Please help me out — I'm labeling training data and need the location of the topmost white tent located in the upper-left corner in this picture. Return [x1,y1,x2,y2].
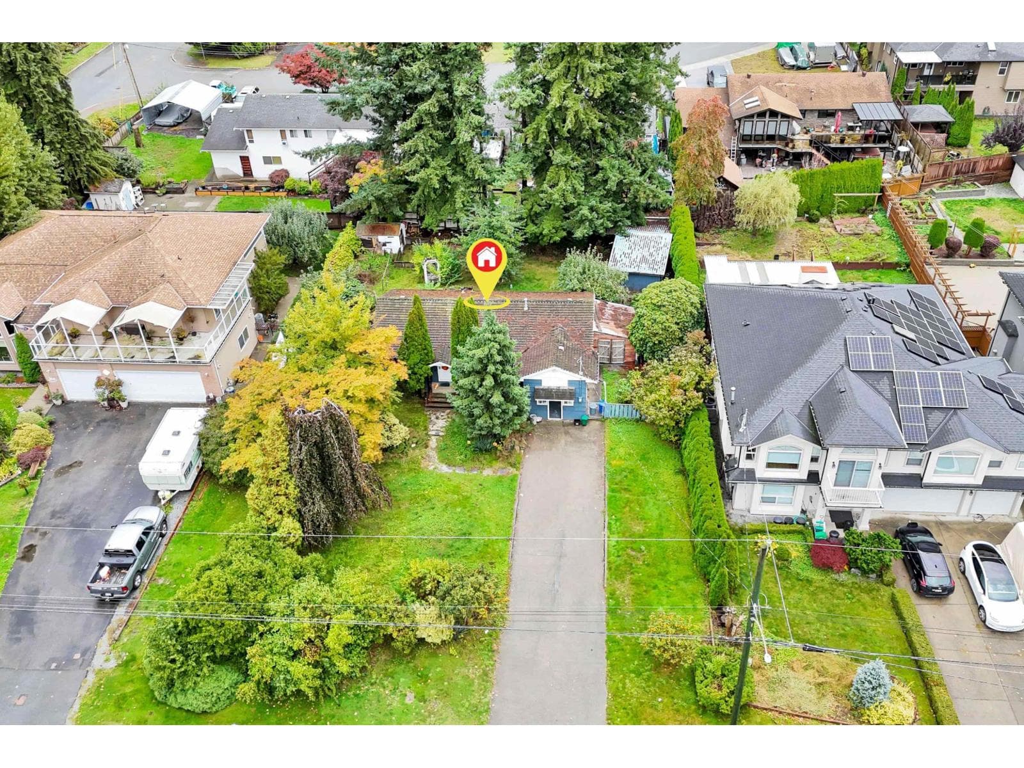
[136,78,230,131]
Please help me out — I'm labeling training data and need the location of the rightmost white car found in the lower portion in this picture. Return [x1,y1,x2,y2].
[961,542,1024,639]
